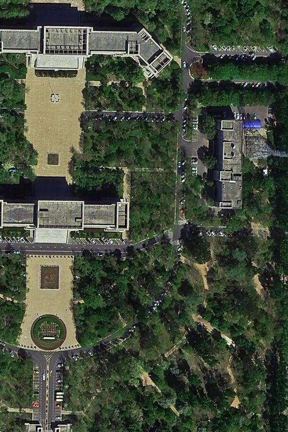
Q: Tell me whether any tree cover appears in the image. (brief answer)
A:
Yes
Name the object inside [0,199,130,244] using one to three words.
building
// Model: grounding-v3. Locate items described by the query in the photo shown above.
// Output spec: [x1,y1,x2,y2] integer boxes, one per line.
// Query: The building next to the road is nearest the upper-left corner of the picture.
[0,27,175,78]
